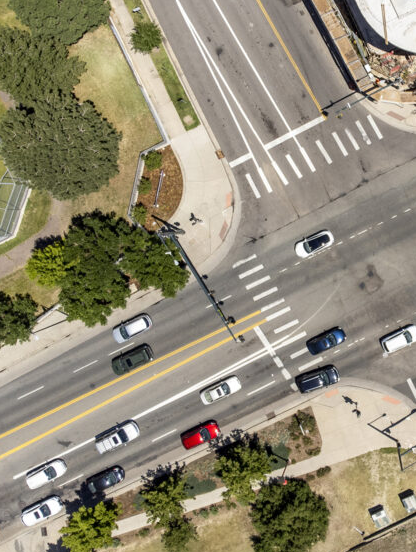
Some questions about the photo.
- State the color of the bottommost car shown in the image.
white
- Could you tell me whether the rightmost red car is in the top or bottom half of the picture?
bottom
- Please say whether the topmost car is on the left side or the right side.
right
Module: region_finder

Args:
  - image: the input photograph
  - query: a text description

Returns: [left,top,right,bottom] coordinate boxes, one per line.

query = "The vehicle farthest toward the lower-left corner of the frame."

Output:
[21,494,64,525]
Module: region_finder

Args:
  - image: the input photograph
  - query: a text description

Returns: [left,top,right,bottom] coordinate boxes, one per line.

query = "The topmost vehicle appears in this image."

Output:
[295,229,336,257]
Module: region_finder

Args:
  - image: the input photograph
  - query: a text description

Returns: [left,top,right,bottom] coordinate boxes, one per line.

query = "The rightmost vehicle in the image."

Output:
[380,323,416,353]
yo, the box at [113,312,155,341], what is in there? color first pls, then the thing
white car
